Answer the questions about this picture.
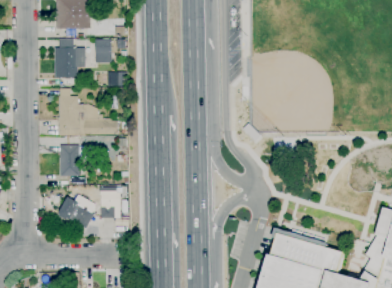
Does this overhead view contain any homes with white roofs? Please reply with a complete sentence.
Yes, a home with a white roof is visible in the scene.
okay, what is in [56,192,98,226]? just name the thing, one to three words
house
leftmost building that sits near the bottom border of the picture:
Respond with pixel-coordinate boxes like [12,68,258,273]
[254,228,369,288]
